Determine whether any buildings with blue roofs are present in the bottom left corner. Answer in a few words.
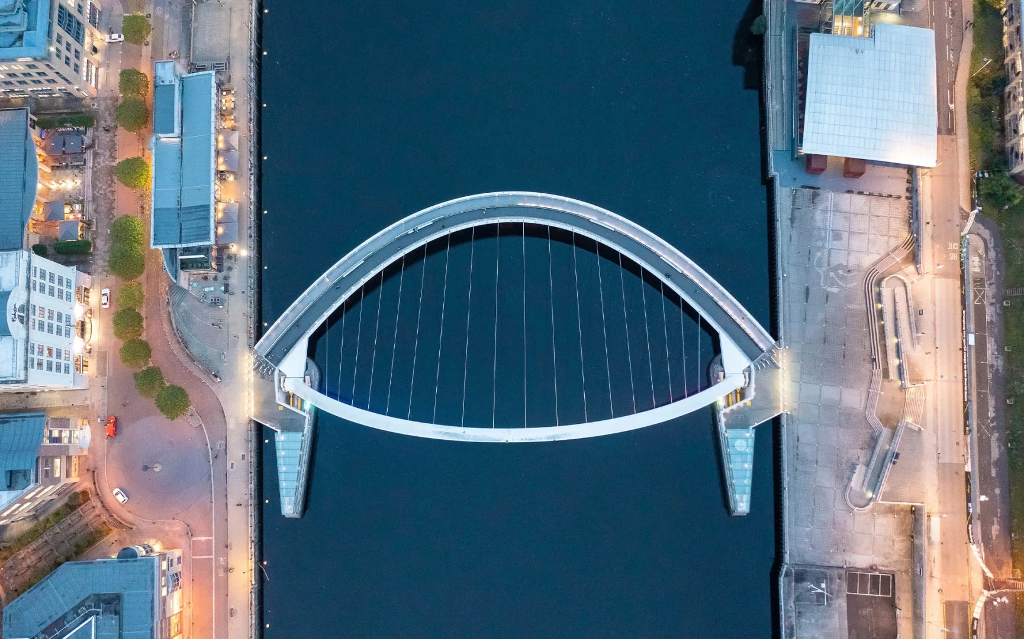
Yes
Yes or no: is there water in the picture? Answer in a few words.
Yes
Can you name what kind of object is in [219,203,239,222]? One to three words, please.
umbrella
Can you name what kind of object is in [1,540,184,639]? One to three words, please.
building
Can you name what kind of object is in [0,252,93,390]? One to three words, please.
building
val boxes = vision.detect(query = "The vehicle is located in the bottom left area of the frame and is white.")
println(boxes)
[111,486,128,506]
